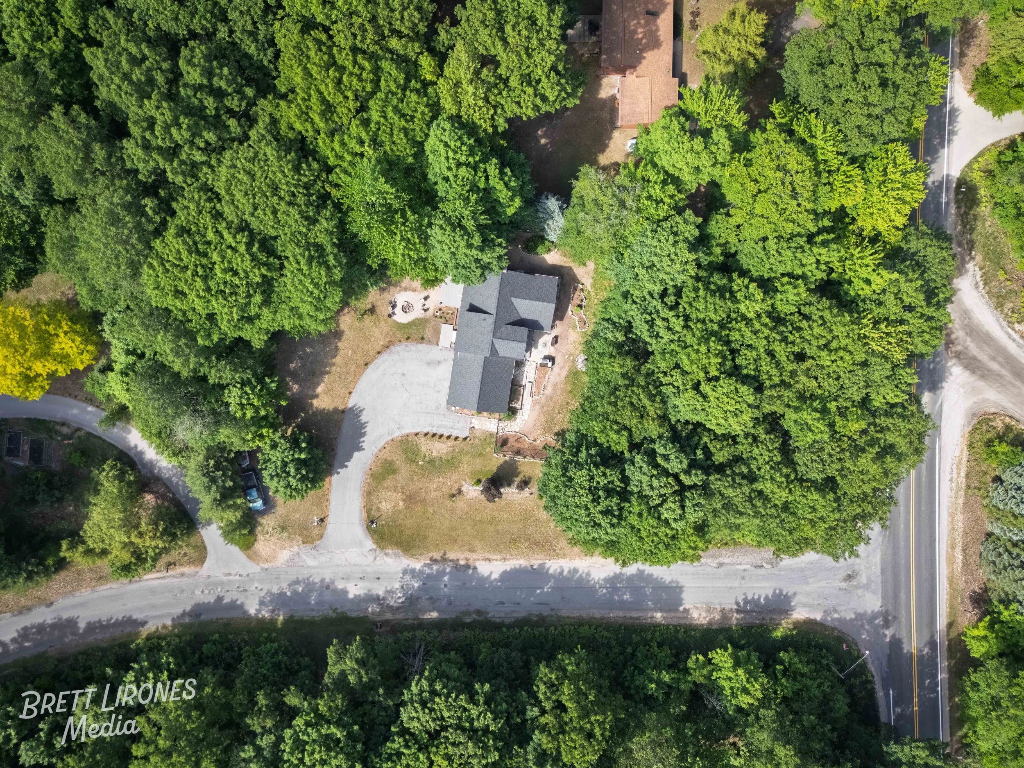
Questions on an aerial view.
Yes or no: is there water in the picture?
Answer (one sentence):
No, water can't be seen anywhere here.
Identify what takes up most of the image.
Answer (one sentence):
For the most part, this view shows trees.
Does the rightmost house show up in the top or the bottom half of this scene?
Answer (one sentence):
The rightmost house sits in the top half of the picture.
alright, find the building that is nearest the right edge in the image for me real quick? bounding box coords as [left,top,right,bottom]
[601,0,678,130]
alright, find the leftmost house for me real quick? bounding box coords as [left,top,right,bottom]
[447,266,559,415]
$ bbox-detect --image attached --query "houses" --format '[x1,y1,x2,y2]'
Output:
[447,266,559,415]
[601,0,678,130]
